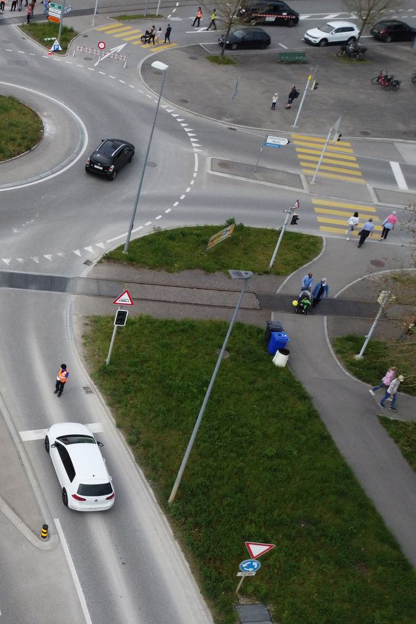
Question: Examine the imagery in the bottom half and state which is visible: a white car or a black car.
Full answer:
You can see a white car in the bottom half.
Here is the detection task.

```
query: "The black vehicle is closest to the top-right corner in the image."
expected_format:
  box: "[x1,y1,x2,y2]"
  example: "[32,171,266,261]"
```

[371,17,416,42]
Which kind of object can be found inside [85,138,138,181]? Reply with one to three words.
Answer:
car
